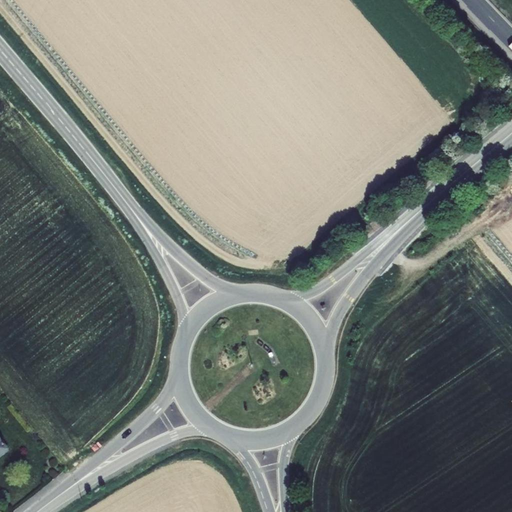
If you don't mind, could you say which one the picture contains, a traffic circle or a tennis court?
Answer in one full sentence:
The image shows a traffic circle.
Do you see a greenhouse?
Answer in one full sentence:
No, the frame has no greenhouse in it.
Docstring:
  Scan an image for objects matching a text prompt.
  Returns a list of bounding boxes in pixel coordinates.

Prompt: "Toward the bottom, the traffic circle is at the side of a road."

[168,282,336,450]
